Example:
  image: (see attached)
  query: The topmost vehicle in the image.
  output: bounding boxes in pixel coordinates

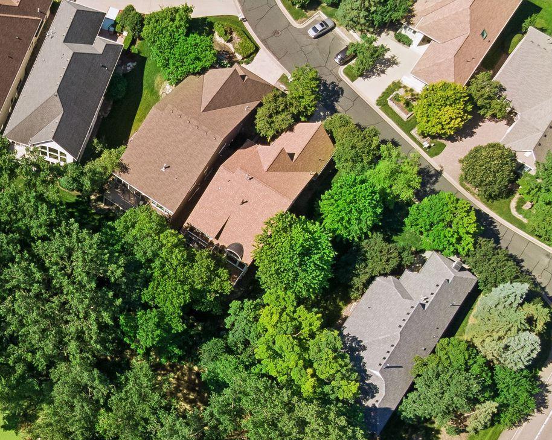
[306,18,338,39]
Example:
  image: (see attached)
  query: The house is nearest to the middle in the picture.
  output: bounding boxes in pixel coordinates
[182,121,334,287]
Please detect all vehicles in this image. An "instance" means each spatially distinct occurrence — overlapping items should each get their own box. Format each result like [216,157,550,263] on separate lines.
[306,18,338,39]
[332,42,359,65]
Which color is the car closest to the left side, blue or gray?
gray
